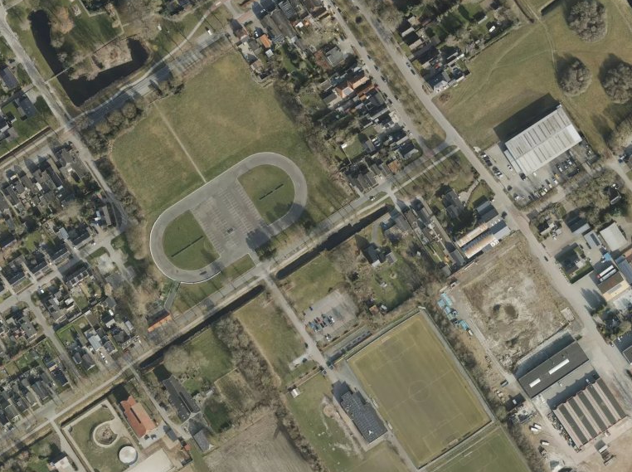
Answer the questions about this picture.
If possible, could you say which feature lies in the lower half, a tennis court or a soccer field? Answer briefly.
soccer field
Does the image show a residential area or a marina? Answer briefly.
residential area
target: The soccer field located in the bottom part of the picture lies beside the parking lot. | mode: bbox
[348,311,491,466]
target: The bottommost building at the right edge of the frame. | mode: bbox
[555,378,629,450]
